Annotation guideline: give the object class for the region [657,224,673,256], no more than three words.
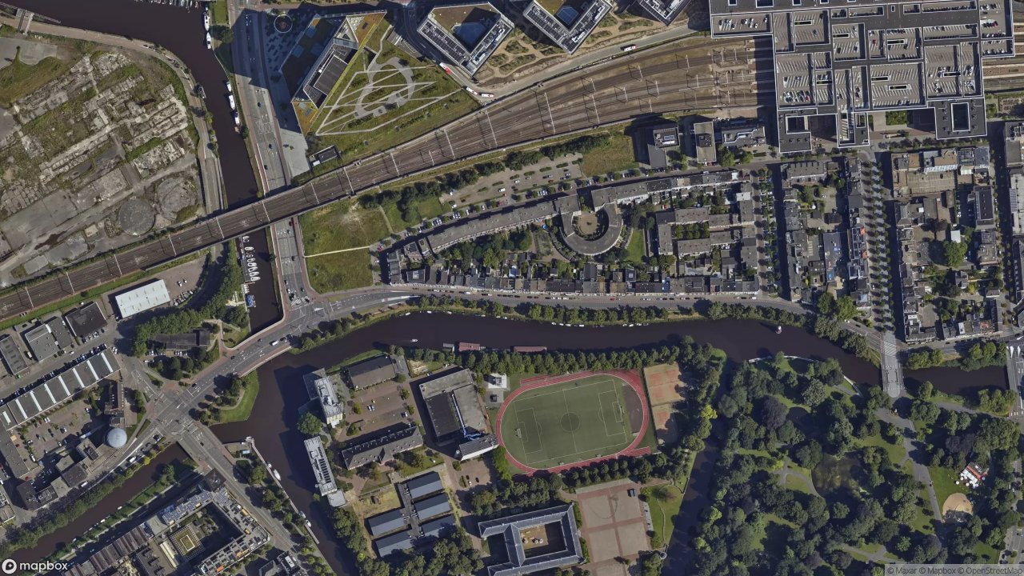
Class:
house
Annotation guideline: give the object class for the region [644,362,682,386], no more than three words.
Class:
tennis court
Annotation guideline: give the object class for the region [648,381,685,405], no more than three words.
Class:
tennis court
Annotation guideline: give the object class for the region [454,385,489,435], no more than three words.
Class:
building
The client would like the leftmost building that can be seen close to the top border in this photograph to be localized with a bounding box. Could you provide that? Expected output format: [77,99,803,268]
[280,12,387,140]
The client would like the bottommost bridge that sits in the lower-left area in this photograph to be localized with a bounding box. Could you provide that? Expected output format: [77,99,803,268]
[177,426,223,461]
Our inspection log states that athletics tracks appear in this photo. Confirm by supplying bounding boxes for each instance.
[495,369,651,475]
